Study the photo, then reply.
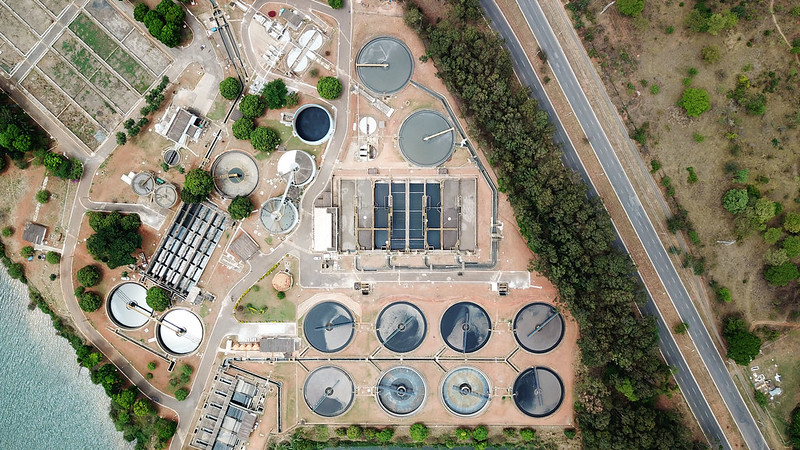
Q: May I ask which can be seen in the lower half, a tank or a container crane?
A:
tank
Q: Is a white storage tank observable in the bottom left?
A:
Yes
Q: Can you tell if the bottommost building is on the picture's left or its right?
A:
left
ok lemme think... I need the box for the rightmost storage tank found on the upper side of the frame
[398,109,455,166]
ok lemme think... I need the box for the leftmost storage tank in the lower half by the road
[103,280,153,330]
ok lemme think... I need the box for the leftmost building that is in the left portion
[23,223,48,245]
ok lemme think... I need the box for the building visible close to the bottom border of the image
[181,366,271,450]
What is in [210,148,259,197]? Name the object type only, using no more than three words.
storage tank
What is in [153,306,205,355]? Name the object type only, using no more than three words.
storage tank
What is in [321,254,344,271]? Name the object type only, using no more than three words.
building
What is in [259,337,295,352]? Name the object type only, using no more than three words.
shed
